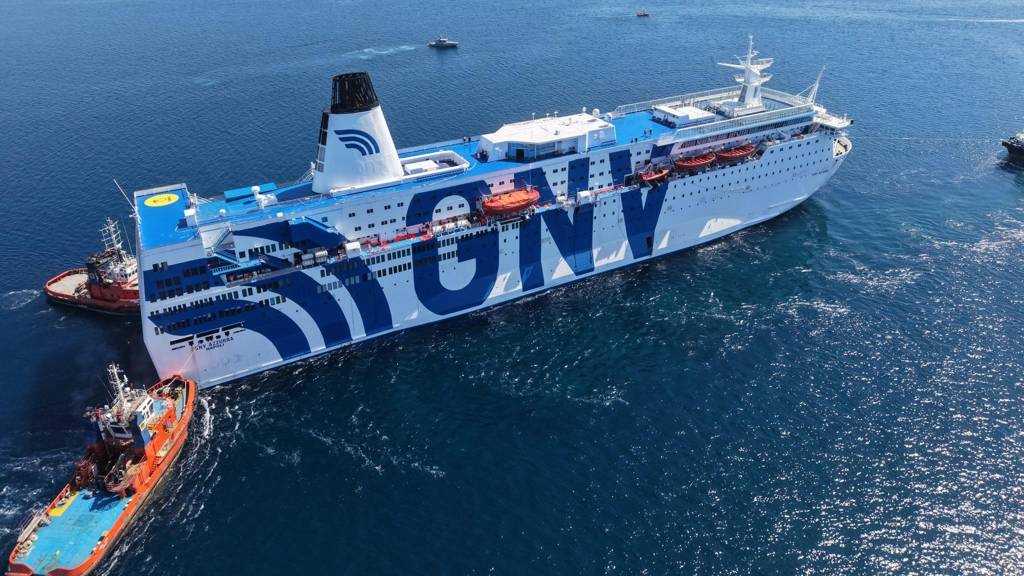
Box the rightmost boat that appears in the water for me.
[1003,130,1024,155]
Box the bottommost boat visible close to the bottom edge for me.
[3,360,196,576]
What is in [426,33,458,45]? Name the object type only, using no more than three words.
boat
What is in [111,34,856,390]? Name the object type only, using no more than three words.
ship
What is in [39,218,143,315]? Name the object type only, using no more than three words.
boat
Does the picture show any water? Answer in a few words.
Yes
